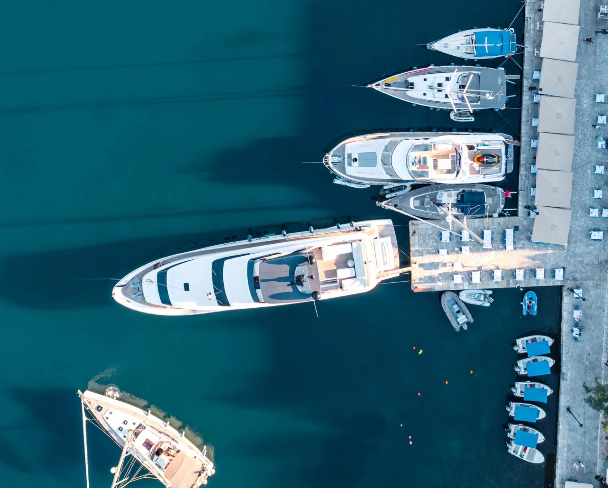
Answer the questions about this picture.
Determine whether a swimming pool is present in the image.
No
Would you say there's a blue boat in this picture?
Yes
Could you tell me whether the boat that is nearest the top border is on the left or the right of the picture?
right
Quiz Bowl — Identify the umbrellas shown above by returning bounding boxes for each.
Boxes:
[540,22,581,61]
[536,133,575,171]
[534,169,573,207]
[538,95,576,134]
[564,479,593,488]
[538,58,578,98]
[531,206,572,245]
[542,0,580,24]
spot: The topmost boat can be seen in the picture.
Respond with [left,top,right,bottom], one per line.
[418,4,527,69]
